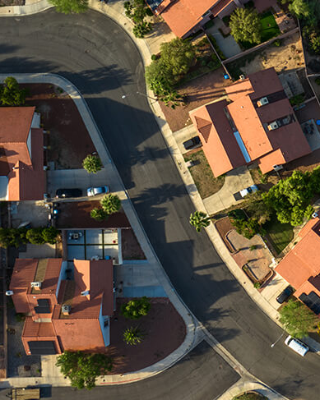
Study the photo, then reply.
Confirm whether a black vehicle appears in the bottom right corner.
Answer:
Yes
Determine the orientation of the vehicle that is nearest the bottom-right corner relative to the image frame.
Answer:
on a diagonal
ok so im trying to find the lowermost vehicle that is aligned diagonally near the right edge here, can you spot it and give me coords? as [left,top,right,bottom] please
[283,334,311,358]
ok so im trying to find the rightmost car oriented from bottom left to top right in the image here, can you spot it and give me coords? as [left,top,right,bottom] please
[274,284,295,305]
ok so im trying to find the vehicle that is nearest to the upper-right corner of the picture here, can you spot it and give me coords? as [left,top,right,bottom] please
[179,134,202,151]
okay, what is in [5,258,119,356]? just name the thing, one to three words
house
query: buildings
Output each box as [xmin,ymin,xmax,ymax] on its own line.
[146,0,246,38]
[5,258,119,356]
[0,107,52,201]
[275,210,320,317]
[189,67,312,178]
